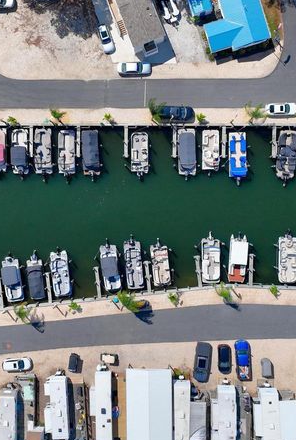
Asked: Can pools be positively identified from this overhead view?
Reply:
No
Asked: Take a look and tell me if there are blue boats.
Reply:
Yes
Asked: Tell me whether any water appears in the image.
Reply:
Yes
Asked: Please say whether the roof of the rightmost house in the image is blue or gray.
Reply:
blue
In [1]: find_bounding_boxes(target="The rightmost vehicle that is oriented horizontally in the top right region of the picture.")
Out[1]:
[264,102,296,117]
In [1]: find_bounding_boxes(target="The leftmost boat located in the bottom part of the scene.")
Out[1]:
[0,249,26,306]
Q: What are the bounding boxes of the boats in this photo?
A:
[80,126,101,186]
[227,127,247,188]
[177,126,196,186]
[26,249,47,302]
[128,126,149,184]
[200,228,220,284]
[200,127,220,180]
[32,127,54,184]
[49,241,73,301]
[0,249,26,306]
[274,128,296,191]
[277,226,296,285]
[56,127,76,184]
[7,127,30,184]
[227,231,250,286]
[123,231,146,292]
[99,234,123,296]
[150,236,172,291]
